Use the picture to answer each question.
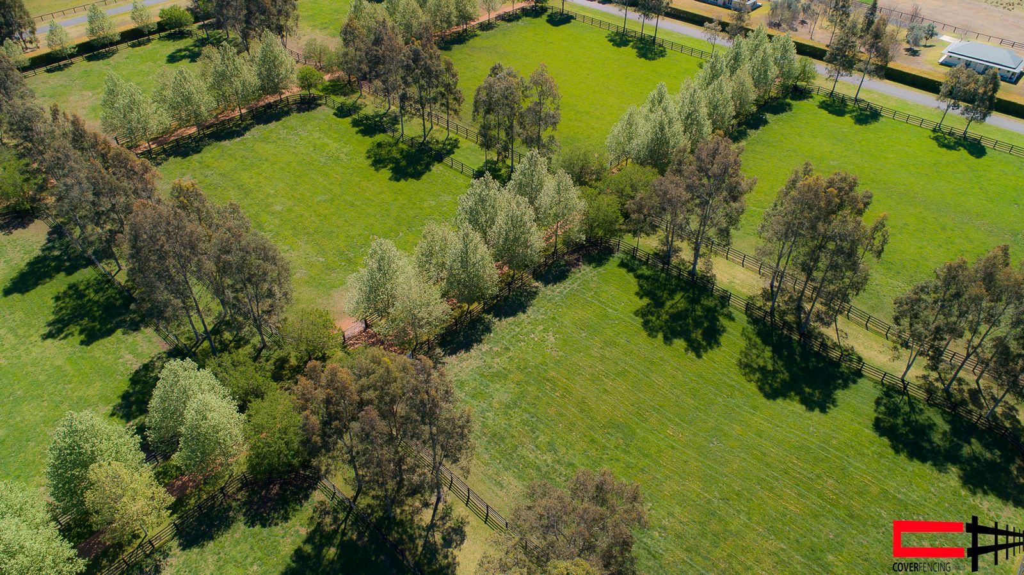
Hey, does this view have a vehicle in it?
No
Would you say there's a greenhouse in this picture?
No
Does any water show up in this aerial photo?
No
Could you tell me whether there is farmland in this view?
Yes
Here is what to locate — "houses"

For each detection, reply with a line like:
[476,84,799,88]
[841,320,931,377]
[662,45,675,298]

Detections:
[937,35,1024,84]
[699,0,758,11]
